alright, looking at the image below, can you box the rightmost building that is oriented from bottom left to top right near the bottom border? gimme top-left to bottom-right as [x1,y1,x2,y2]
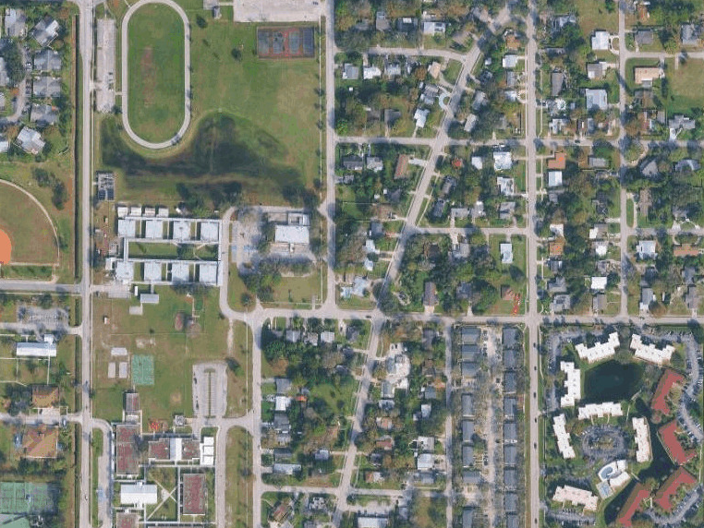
[654,469,699,512]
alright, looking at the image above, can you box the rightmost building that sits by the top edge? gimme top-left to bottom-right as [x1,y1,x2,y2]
[680,23,703,45]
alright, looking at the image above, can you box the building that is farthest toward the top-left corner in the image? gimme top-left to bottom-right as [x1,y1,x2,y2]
[3,7,27,37]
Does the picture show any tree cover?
Yes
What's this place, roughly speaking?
residential area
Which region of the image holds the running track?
top left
